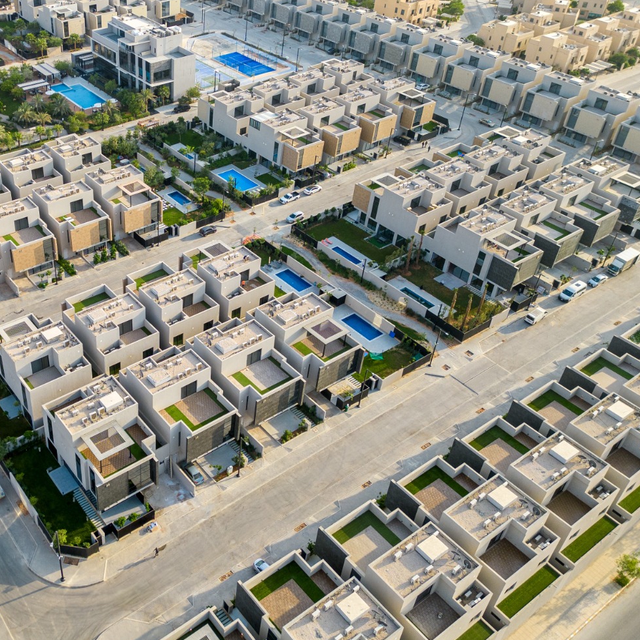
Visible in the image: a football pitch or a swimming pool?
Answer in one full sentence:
Visible in the photo is a swimming pool.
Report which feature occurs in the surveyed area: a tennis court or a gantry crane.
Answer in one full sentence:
Visible in the photo is a tennis court.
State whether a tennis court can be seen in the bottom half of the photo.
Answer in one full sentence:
No, in the bottom half of the photo there is no tennis court.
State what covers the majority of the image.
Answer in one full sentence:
Most of the picture is covered by buildings.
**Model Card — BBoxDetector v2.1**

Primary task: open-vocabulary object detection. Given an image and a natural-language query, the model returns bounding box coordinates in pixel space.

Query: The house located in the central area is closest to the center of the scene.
[246,292,367,396]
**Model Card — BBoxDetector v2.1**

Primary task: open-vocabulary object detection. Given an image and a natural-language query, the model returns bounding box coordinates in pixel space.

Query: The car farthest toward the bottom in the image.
[243,555,271,573]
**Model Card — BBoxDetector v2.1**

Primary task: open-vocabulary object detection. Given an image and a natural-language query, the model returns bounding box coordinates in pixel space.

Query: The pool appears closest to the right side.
[392,281,439,310]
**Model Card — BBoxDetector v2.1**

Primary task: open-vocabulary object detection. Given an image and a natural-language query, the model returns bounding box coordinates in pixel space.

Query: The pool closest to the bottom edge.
[340,311,386,342]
